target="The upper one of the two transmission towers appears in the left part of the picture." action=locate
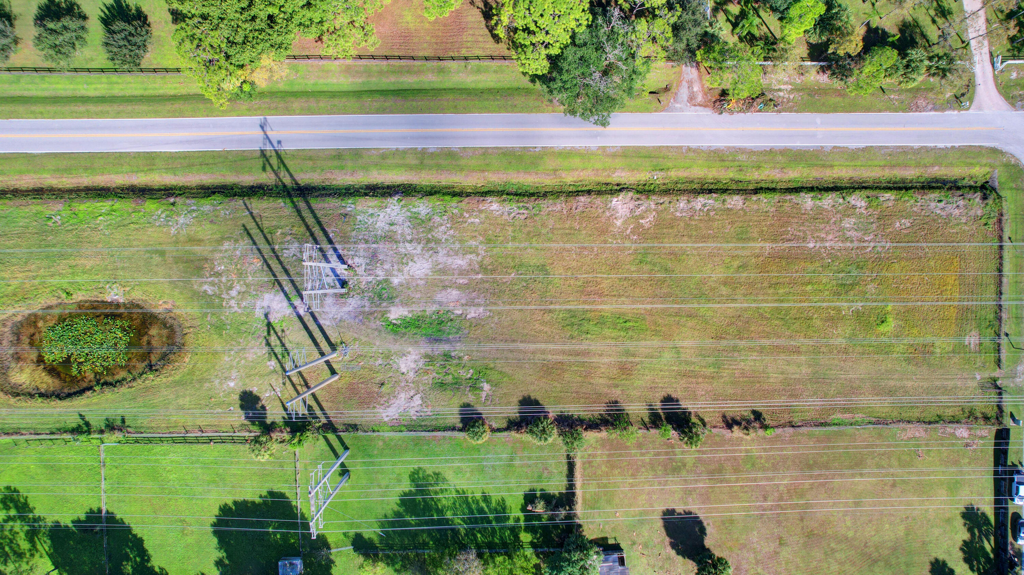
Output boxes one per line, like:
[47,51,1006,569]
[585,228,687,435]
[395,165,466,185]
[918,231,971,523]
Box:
[302,244,349,313]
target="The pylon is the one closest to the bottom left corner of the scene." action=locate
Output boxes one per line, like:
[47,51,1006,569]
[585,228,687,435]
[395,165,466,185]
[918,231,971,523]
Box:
[308,449,350,539]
